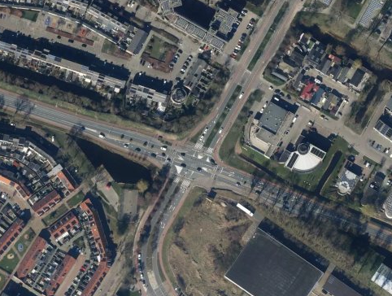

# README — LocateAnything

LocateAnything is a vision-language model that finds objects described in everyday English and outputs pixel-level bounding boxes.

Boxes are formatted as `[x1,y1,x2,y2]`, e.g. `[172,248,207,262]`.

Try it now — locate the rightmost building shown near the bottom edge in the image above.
[372,263,392,294]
